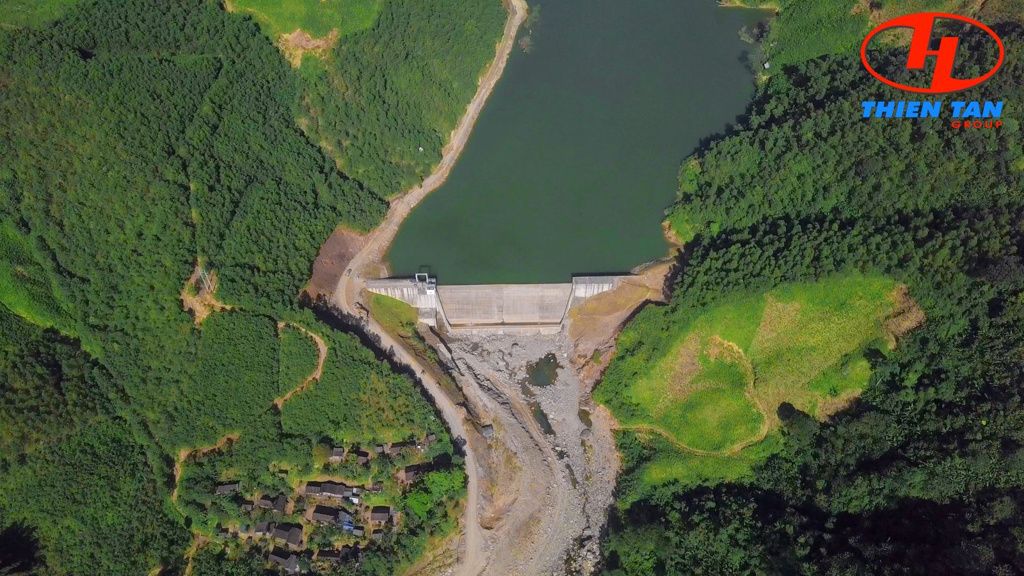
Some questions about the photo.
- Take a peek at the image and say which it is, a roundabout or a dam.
dam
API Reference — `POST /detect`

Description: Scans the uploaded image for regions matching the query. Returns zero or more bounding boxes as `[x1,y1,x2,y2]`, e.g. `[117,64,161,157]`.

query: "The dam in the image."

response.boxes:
[365,275,635,339]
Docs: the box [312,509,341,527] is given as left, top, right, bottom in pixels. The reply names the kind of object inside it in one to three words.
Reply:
house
